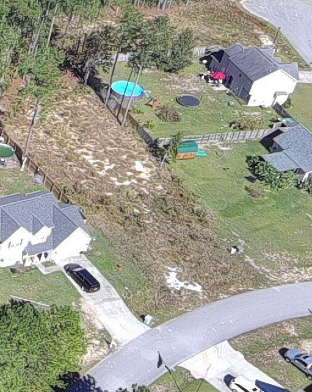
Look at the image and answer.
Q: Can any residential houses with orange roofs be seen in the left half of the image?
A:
No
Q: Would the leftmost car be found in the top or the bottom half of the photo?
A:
bottom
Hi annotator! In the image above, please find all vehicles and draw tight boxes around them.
[226,377,264,392]
[278,349,312,379]
[65,264,105,294]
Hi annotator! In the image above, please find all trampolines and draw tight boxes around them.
[175,95,202,109]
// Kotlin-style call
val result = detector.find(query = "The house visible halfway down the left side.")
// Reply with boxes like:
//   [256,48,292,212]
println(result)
[0,193,96,270]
